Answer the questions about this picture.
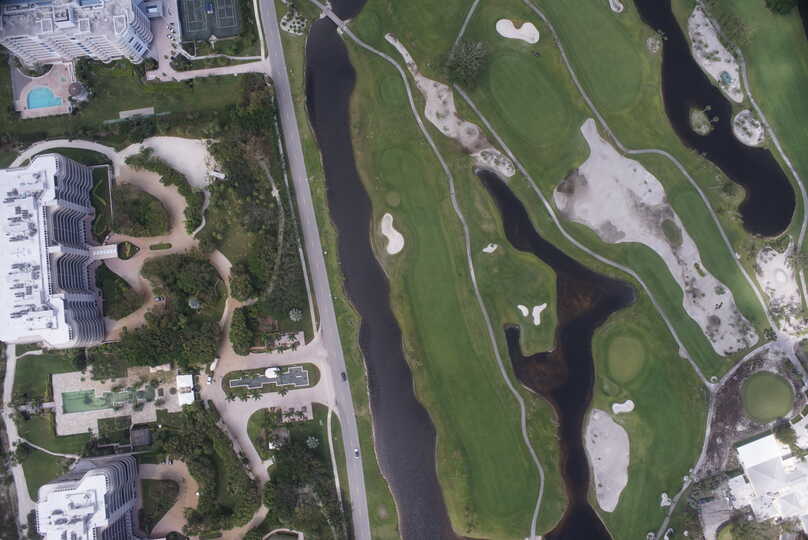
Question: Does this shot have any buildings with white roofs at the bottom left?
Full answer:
Yes, there is a building with a white roof at the bottom left.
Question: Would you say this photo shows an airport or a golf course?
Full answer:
This looks like a golf course.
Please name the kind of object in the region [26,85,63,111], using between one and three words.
swimming pool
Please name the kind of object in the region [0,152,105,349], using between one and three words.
building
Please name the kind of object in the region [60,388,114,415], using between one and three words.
swimming pool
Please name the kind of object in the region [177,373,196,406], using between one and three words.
building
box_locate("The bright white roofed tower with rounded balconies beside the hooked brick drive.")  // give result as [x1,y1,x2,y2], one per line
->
[37,451,137,540]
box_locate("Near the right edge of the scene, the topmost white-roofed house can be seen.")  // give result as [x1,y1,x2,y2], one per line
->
[733,433,808,516]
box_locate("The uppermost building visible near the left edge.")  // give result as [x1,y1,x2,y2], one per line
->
[0,0,154,67]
